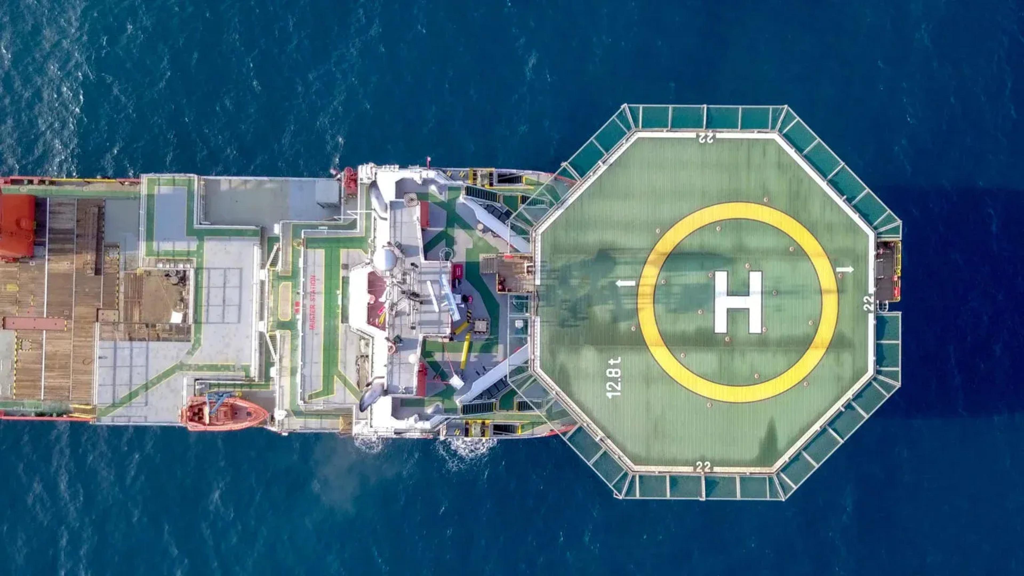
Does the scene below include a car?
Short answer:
No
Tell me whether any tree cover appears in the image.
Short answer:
No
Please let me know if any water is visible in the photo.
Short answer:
Yes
